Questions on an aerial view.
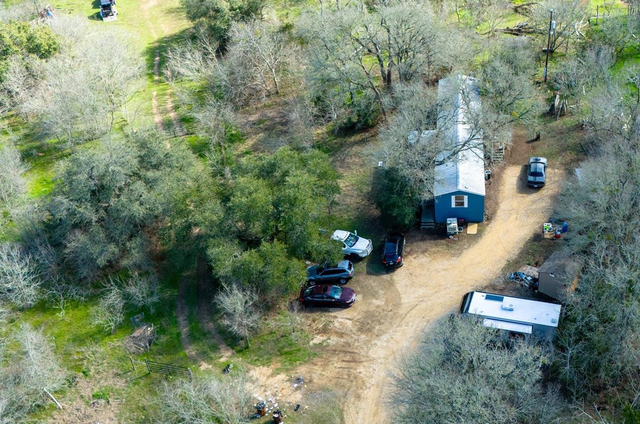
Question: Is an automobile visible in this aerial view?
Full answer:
Yes, an automobile can be made out from above.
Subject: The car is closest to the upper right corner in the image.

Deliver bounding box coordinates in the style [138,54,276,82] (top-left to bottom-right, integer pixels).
[526,158,548,190]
